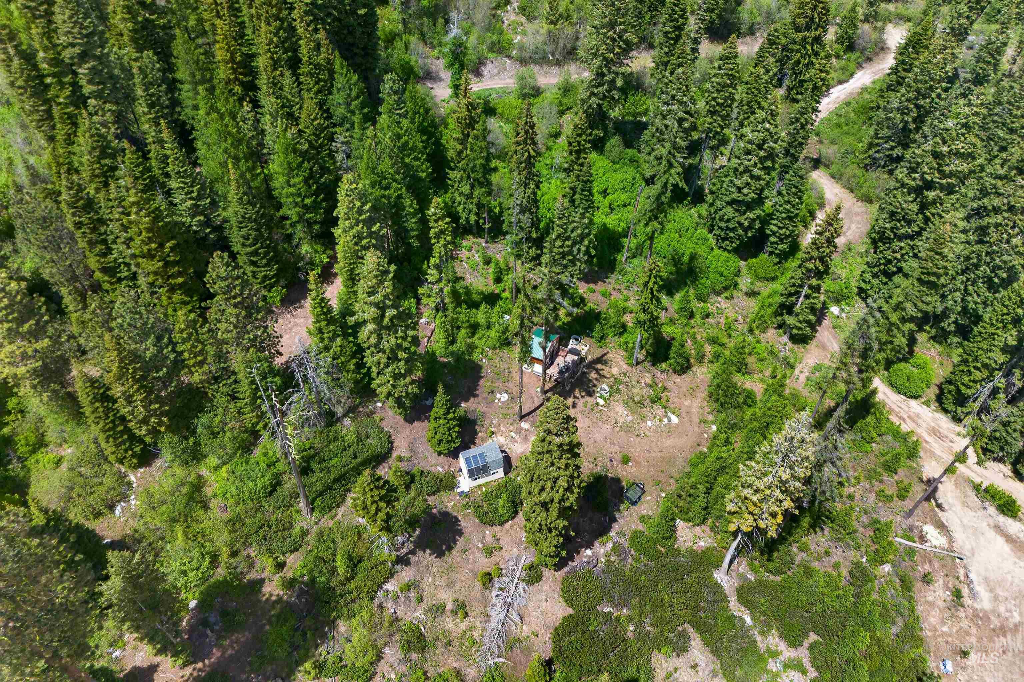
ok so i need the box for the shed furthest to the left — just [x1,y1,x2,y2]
[453,442,506,496]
